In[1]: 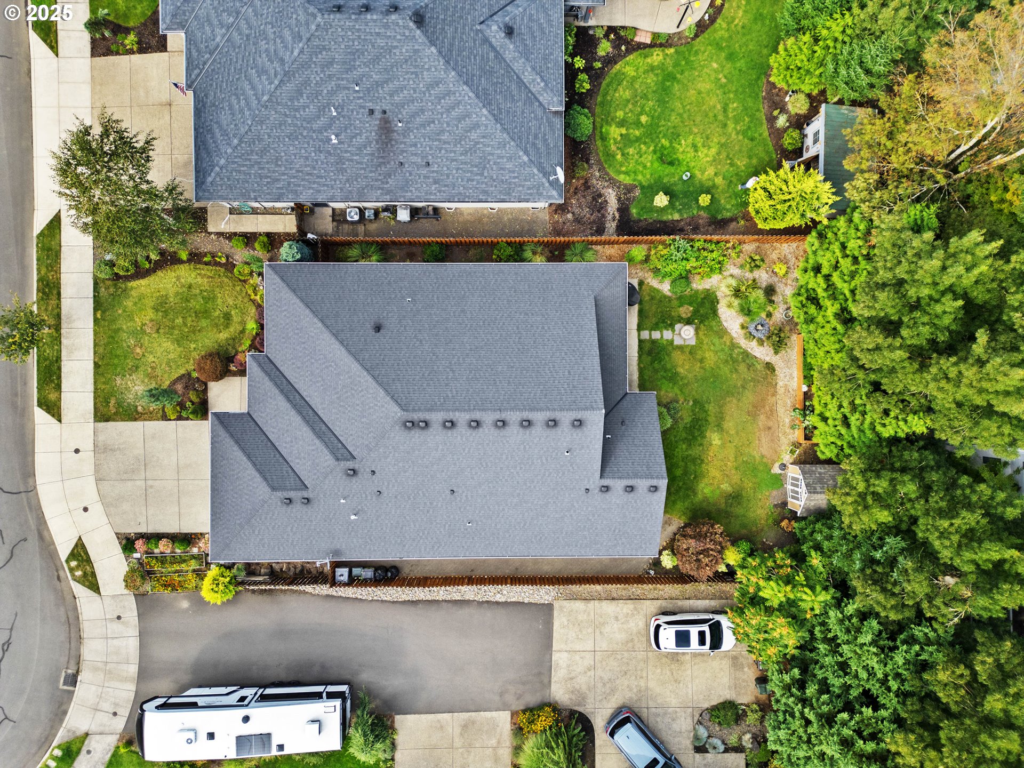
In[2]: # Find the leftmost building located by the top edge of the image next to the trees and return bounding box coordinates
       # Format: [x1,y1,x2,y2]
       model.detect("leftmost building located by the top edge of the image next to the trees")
[157,0,566,211]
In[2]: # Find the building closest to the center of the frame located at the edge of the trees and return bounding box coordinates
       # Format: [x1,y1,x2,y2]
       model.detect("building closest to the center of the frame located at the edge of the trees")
[207,261,668,564]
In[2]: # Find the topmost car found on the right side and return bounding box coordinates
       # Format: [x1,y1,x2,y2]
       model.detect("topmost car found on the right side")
[648,609,738,657]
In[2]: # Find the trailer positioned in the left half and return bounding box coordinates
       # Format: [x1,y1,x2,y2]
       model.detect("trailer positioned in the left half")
[134,677,355,759]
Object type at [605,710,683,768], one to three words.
car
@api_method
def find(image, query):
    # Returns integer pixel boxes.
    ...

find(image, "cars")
[648,609,738,657]
[605,710,683,768]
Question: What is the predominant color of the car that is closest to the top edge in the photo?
white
